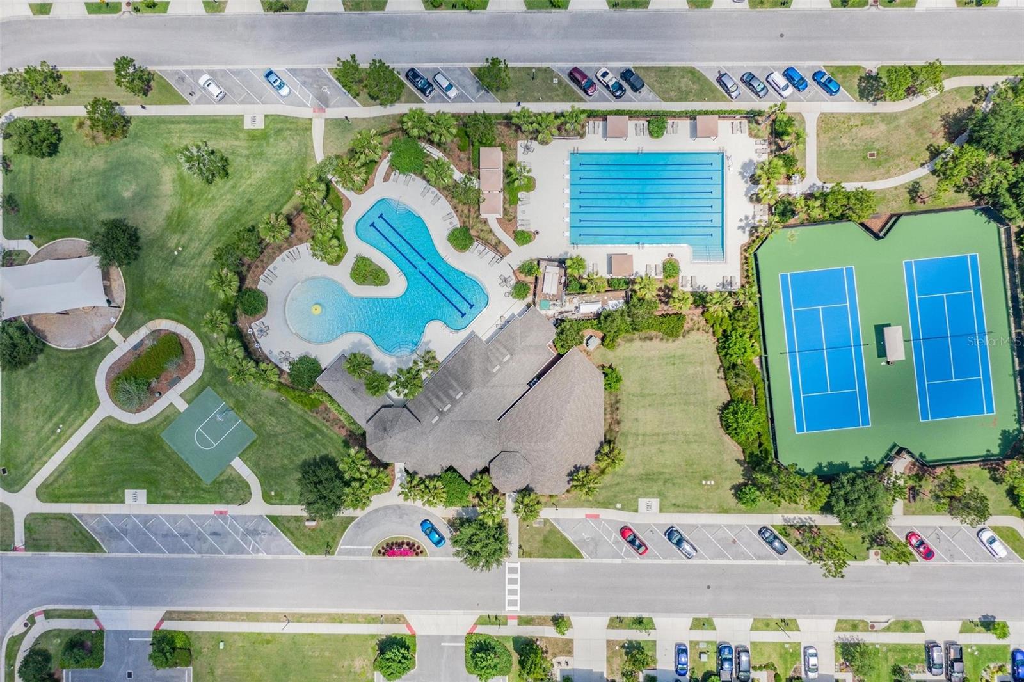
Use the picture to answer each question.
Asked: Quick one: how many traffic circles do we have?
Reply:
zero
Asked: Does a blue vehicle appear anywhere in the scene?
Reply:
Yes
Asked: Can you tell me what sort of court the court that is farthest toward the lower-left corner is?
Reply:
basketball court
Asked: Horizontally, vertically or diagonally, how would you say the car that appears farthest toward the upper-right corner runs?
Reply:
diagonally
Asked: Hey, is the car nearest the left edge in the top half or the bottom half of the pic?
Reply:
top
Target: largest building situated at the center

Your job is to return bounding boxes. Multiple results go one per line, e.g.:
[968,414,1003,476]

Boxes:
[316,306,604,495]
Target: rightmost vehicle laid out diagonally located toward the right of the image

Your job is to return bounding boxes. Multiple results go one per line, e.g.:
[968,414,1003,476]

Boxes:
[976,528,1006,557]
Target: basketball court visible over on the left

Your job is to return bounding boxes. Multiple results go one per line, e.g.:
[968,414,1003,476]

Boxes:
[160,387,256,483]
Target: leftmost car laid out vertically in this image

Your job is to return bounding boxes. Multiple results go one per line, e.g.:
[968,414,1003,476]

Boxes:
[674,643,689,675]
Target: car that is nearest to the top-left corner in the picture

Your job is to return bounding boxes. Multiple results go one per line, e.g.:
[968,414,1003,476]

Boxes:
[197,72,228,103]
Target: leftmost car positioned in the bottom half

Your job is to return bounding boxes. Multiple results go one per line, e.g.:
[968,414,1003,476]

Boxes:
[420,518,446,549]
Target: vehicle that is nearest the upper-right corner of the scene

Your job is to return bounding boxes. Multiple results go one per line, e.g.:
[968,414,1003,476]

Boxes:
[811,69,841,97]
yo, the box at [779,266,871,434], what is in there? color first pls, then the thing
blue tennis court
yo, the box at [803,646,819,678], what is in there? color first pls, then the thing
white car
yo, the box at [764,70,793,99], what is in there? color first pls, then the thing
white car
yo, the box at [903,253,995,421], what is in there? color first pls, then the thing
blue tennis court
